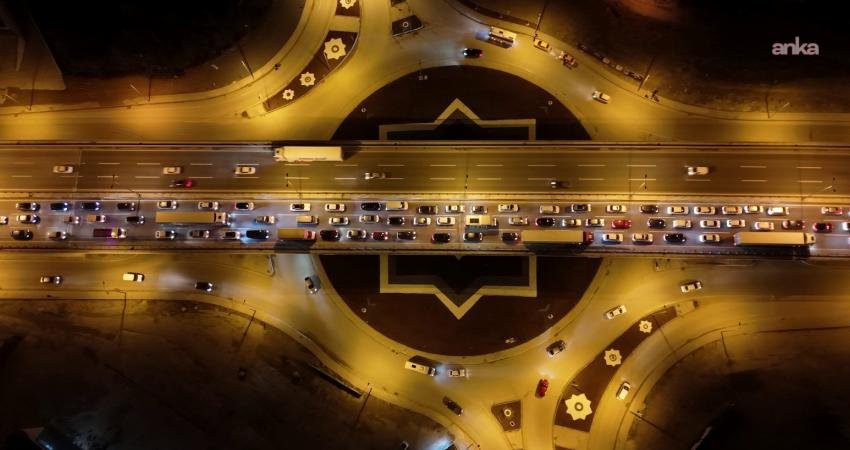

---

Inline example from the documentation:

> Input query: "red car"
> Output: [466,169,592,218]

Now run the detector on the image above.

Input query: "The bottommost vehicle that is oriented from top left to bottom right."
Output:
[442,396,462,416]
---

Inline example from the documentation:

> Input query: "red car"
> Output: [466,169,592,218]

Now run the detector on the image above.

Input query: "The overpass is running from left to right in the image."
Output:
[0,139,850,267]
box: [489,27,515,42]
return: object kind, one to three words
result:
vehicle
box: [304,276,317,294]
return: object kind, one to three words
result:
vehicle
